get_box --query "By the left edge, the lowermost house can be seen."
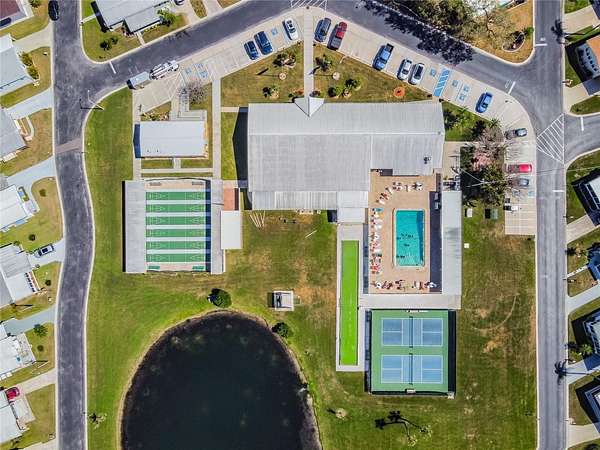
[0,388,29,444]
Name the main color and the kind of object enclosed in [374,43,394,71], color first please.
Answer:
blue vehicle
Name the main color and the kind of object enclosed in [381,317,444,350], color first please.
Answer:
blue sports court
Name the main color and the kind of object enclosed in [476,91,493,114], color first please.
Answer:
blue car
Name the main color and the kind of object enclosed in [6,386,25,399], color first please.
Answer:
red vehicle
